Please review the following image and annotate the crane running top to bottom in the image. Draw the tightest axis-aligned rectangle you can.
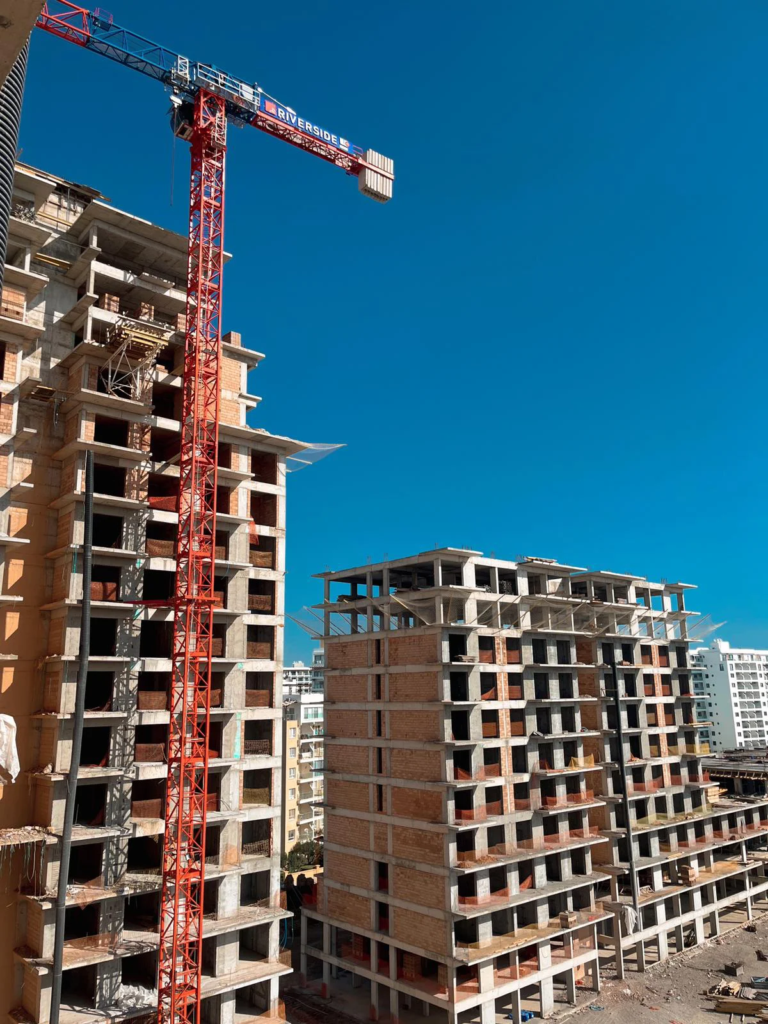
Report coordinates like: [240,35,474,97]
[31,0,396,1024]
